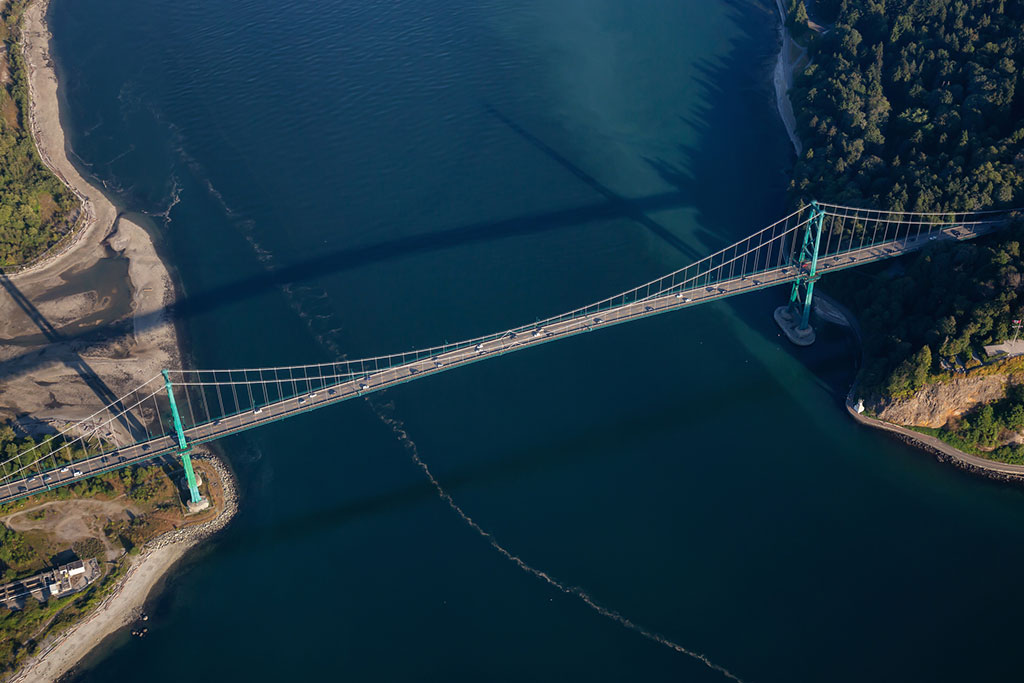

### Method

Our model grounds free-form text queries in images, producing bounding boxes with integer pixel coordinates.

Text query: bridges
[0,201,1024,508]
